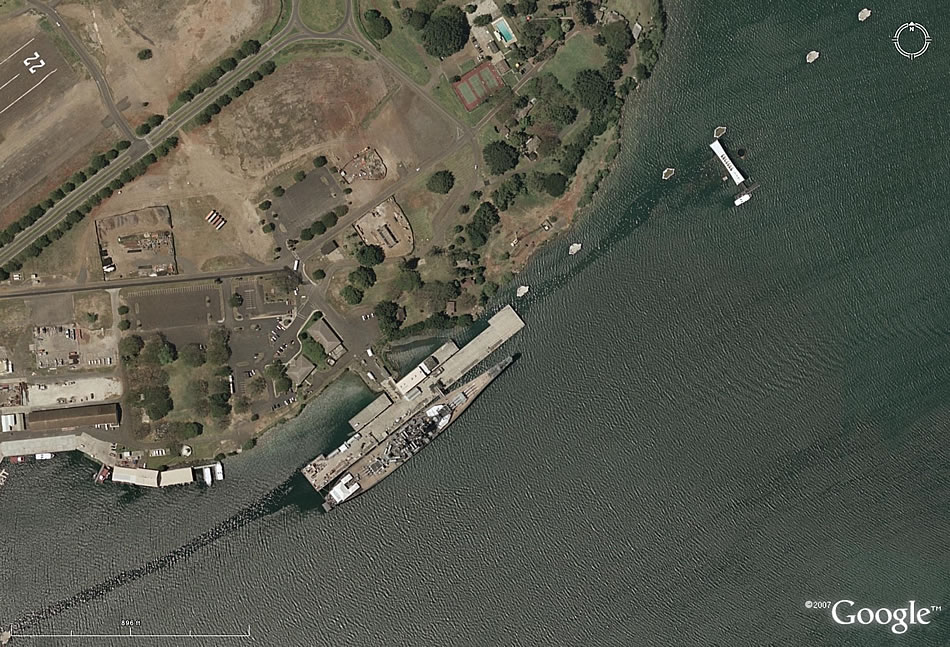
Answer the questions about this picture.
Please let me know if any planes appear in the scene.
No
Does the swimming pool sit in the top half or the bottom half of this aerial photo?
top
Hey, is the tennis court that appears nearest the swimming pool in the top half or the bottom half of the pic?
top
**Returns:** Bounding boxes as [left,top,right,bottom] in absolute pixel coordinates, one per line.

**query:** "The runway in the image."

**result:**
[0,25,81,123]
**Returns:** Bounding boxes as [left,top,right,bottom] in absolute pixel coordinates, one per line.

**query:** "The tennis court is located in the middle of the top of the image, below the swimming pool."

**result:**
[453,61,506,110]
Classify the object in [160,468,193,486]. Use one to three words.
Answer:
building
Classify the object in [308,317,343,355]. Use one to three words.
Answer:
building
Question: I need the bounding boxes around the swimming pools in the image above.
[492,17,517,47]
